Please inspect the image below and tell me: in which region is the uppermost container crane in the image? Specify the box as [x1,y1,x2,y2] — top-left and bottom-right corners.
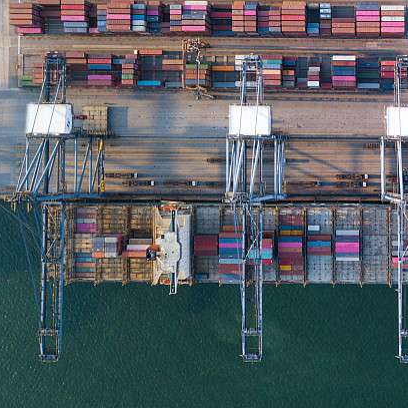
[178,36,209,91]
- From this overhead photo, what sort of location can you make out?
port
